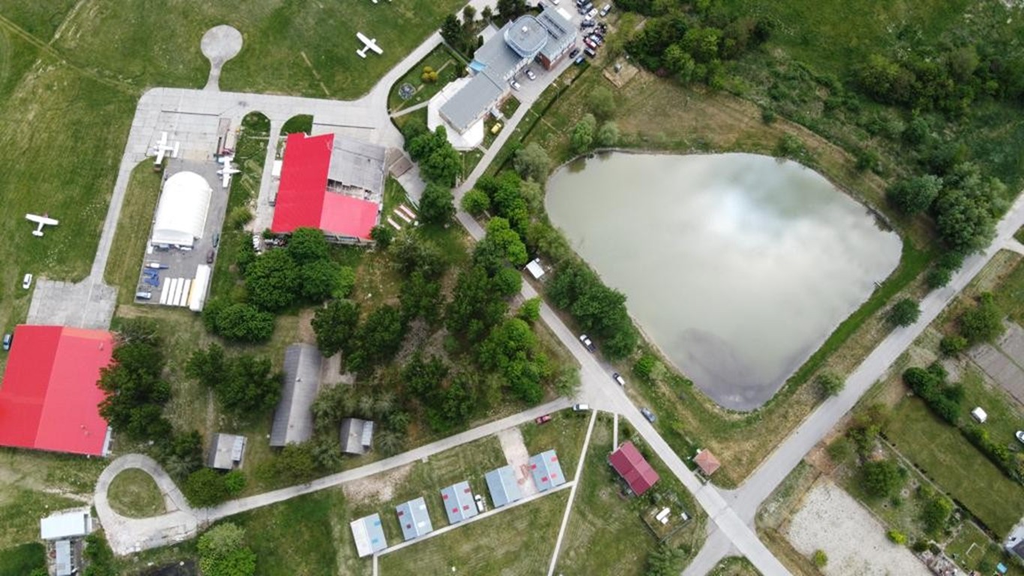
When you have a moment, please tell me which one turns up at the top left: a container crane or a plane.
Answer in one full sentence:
What appears at the top left is a plane.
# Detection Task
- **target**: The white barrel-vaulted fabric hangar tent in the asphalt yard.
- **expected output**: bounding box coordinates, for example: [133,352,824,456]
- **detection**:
[150,173,216,250]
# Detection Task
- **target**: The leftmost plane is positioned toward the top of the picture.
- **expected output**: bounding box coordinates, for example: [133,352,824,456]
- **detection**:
[24,214,58,236]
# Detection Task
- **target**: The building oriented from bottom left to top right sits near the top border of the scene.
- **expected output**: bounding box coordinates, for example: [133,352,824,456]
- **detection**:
[439,7,578,137]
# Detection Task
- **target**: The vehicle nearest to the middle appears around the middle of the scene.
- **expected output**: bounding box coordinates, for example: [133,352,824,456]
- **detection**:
[579,335,595,353]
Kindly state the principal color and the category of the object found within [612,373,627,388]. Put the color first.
white car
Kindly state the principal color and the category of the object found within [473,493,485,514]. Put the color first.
white vehicle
